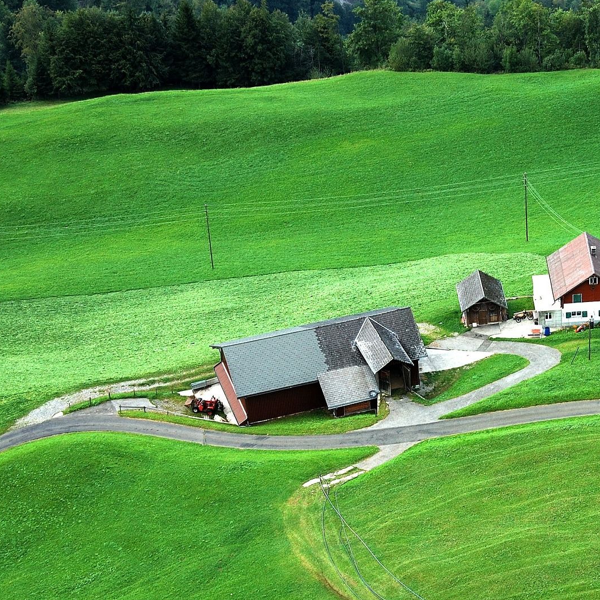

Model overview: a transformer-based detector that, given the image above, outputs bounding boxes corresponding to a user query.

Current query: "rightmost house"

[529,233,600,328]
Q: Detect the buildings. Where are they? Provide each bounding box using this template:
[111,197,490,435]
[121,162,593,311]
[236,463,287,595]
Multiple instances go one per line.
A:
[209,307,429,427]
[529,233,600,328]
[456,270,508,329]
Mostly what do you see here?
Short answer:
grass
